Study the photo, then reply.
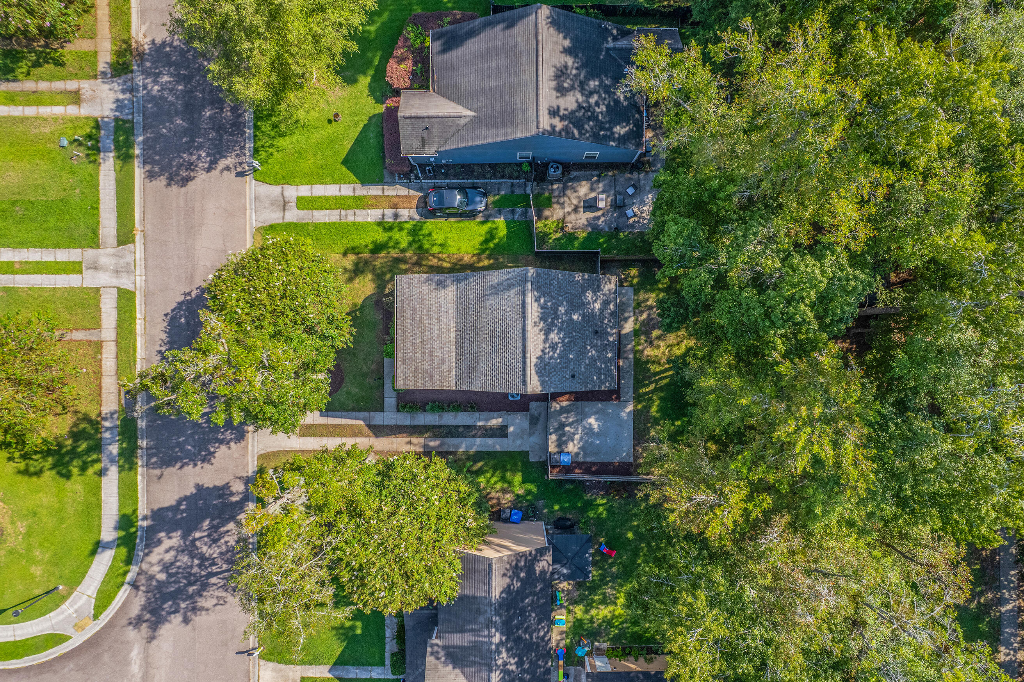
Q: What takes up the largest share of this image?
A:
trees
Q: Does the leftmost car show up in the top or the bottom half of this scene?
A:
top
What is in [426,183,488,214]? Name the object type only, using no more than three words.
car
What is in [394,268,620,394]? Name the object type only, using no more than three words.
house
